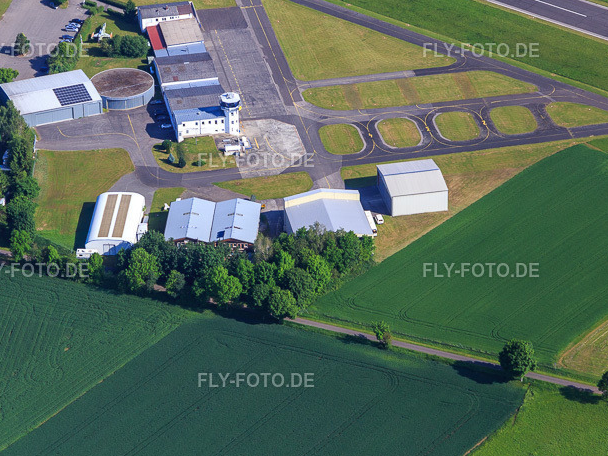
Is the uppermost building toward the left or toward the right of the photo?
left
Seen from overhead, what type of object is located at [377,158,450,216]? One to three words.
hangar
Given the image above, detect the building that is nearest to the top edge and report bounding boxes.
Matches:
[137,2,194,33]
